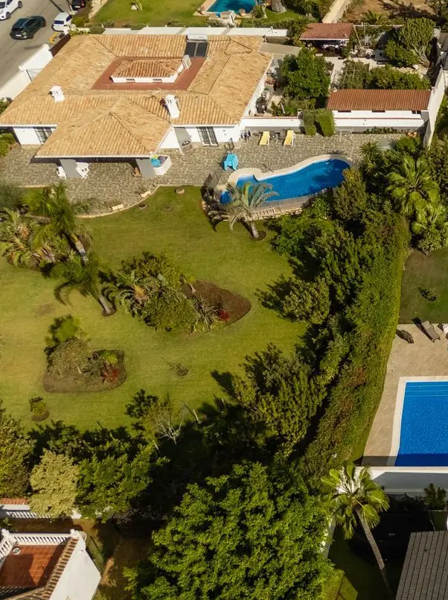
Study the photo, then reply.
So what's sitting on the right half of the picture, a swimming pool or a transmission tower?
swimming pool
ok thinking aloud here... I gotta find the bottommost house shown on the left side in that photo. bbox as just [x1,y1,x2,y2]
[0,530,98,600]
